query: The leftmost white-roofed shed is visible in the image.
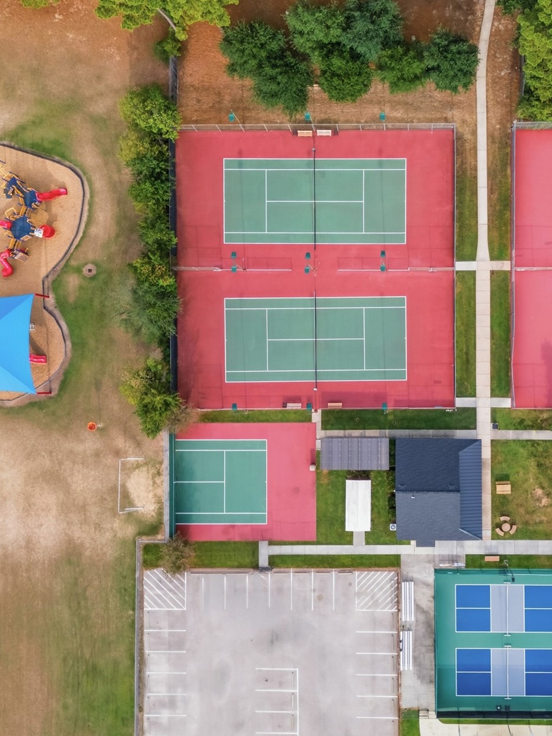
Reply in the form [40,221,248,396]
[345,480,372,531]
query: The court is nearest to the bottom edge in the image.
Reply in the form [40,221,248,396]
[437,641,552,712]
